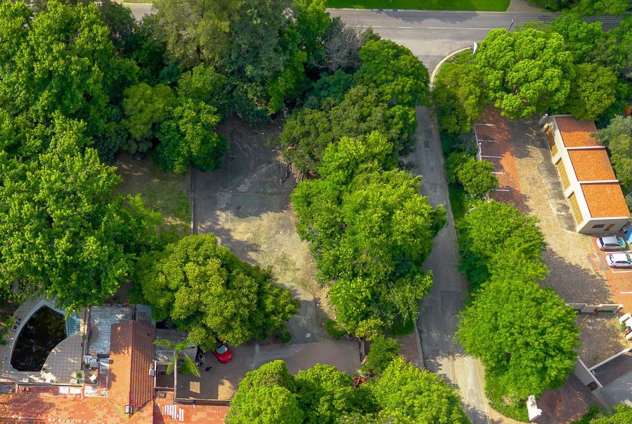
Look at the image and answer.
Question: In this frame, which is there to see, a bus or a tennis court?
tennis court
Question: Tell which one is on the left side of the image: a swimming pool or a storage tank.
swimming pool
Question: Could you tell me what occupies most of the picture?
trees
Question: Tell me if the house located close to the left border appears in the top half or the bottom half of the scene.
bottom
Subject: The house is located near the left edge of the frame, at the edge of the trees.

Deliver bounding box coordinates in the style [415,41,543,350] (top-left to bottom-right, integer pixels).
[0,303,229,424]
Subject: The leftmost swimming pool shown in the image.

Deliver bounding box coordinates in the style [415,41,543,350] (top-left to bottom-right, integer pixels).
[9,302,68,372]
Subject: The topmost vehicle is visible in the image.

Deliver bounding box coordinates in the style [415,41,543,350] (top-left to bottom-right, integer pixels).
[591,233,628,252]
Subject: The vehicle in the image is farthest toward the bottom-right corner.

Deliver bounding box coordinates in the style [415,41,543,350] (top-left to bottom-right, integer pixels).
[601,251,632,269]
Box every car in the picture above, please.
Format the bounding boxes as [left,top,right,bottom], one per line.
[601,251,632,269]
[209,340,238,369]
[591,233,628,252]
